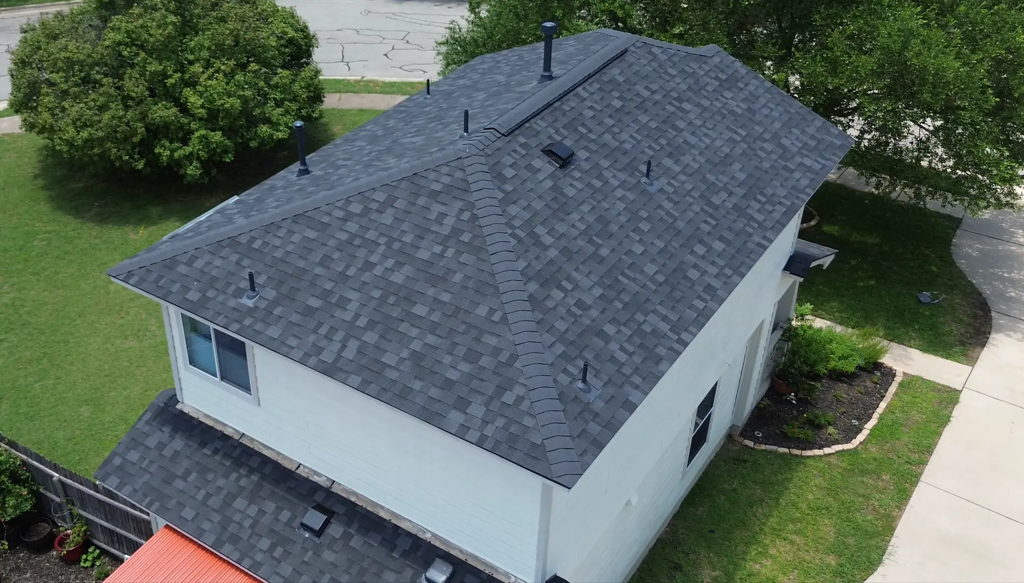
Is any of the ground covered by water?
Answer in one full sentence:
No, water can't be seen anywhere here.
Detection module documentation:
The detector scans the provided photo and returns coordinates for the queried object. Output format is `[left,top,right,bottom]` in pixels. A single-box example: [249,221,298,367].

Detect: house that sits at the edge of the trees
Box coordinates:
[92,20,854,583]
